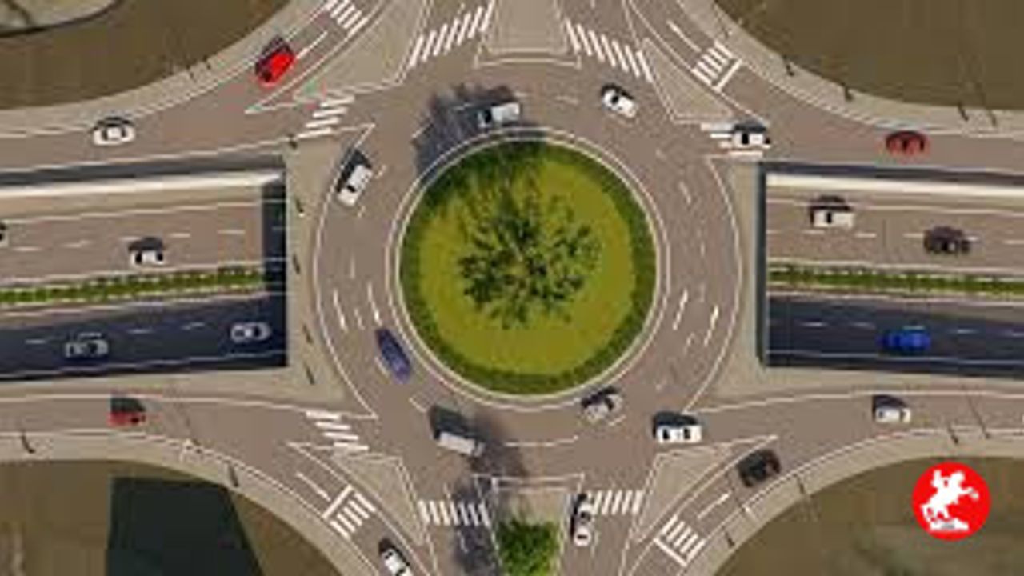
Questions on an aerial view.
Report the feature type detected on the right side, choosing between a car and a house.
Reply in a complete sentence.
The feature located on the right side is a car.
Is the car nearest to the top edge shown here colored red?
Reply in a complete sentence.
Yes, the car nearest to the top edge is indeed red.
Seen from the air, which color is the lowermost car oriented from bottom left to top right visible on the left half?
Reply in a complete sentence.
In this view, the lowermost car oriented from bottom left to top right visible on the left half is white.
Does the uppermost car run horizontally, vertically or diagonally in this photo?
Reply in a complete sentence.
Seen from above, the uppermost car lies diagonally.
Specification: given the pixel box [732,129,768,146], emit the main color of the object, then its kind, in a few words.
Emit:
white car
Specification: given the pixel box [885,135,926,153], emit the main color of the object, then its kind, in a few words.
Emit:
red car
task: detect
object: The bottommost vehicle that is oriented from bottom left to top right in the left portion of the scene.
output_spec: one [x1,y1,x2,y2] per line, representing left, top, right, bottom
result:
[336,156,375,201]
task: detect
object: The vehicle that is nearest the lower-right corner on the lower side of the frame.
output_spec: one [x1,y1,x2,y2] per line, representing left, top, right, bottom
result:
[871,404,909,422]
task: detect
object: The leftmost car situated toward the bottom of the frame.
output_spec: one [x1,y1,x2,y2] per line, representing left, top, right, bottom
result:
[66,340,108,356]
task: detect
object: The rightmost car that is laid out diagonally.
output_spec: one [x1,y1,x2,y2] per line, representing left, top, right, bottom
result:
[738,451,780,486]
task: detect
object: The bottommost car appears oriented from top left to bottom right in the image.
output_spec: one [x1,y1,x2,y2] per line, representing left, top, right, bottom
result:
[379,540,414,576]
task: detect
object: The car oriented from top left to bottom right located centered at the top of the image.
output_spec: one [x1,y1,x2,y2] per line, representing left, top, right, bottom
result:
[601,87,637,117]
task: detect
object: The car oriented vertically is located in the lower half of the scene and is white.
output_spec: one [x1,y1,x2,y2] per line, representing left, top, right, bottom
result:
[575,499,593,545]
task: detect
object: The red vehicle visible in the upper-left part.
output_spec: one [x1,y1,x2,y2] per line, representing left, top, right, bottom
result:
[259,47,294,83]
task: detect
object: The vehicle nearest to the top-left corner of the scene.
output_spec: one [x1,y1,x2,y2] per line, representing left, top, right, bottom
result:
[94,123,134,141]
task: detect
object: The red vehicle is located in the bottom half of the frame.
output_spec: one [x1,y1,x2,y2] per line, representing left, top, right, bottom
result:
[110,408,148,426]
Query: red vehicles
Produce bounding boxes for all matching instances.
[885,135,926,153]
[110,408,148,426]
[259,47,294,83]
